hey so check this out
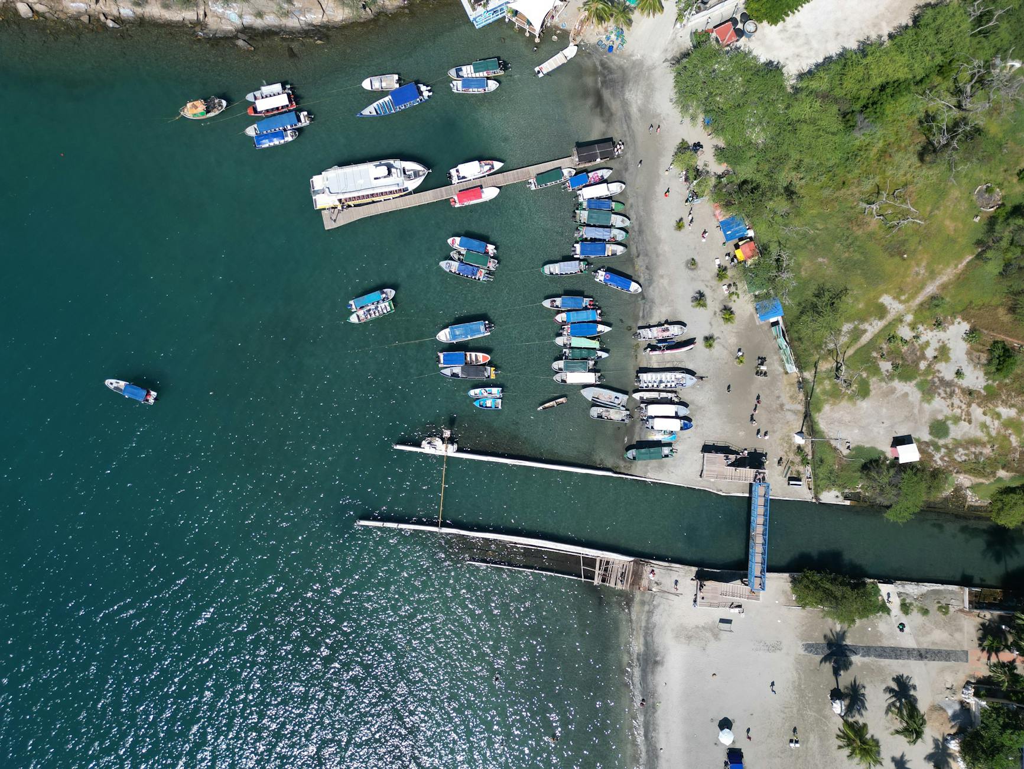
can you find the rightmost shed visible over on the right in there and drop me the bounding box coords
[890,443,919,463]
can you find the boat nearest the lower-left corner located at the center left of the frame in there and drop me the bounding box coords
[105,380,160,404]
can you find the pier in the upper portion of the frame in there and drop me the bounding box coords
[322,150,610,230]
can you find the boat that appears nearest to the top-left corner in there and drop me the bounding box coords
[179,98,228,115]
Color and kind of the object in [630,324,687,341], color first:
white boat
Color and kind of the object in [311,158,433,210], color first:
white ship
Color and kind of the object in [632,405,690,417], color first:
white boat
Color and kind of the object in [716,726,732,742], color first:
white umbrella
